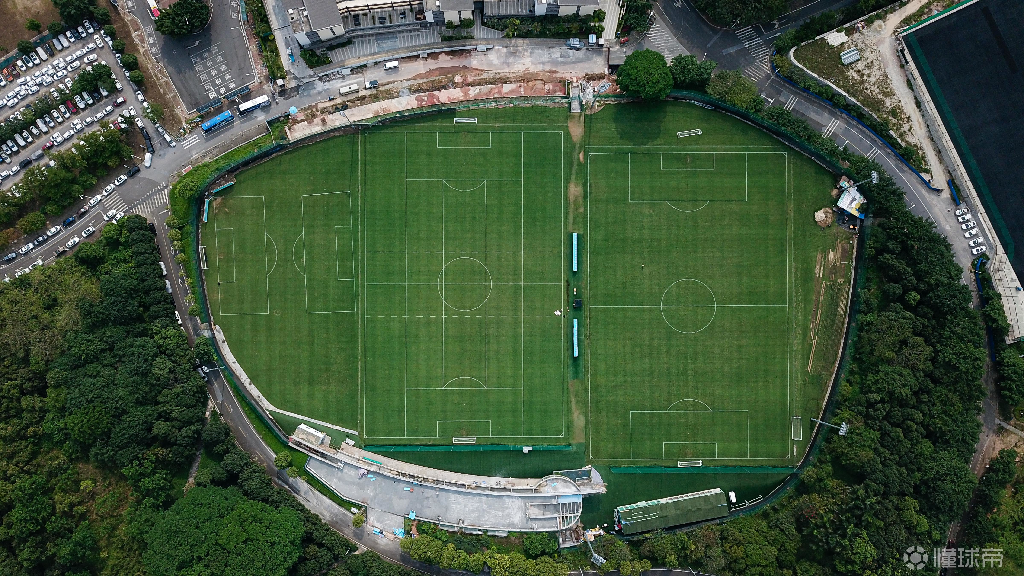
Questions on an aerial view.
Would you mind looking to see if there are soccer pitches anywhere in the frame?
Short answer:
Yes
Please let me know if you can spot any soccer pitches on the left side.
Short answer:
Yes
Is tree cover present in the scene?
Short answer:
Yes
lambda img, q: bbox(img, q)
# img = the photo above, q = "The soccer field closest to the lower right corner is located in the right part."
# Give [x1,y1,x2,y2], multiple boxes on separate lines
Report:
[586,145,800,471]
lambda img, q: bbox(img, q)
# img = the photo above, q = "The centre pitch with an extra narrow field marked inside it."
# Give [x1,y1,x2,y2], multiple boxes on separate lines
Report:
[359,114,571,445]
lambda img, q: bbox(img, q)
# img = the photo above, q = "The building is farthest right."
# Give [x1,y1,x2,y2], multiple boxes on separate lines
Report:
[891,0,1024,292]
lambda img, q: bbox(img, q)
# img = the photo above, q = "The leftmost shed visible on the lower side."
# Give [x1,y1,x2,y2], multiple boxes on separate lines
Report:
[292,422,329,447]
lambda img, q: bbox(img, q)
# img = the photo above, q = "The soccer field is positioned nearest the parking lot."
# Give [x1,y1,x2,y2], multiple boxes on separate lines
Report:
[208,127,358,432]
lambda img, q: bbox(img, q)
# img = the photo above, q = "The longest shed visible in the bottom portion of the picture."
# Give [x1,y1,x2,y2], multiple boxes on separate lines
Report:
[616,487,728,534]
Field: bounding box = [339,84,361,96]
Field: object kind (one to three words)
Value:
vehicle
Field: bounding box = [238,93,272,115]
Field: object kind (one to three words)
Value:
bus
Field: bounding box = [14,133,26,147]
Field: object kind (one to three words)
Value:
vehicle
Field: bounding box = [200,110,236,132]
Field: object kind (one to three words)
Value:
bus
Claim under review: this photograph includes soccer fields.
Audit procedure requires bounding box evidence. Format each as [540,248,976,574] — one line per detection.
[586,145,800,471]
[359,114,571,445]
[208,127,358,432]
